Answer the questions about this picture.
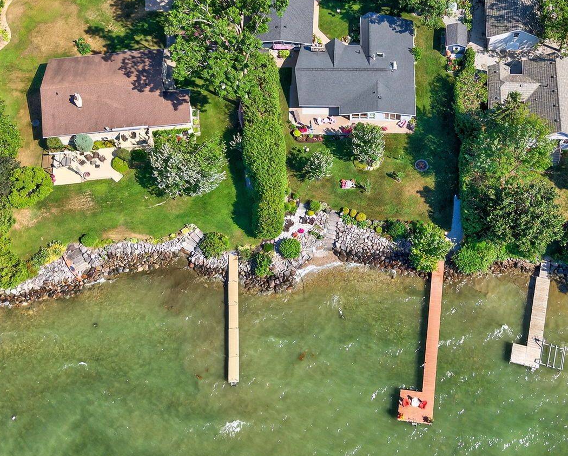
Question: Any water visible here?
Yes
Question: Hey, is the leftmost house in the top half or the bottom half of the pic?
top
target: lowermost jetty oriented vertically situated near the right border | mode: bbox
[508,277,550,369]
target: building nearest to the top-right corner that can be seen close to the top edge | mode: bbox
[484,0,541,57]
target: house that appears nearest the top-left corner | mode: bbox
[39,49,194,146]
